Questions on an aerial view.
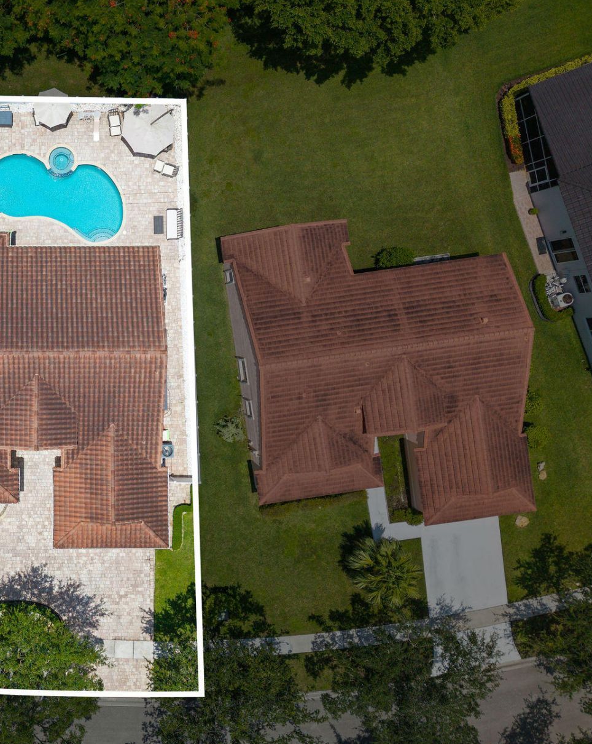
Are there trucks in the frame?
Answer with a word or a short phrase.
No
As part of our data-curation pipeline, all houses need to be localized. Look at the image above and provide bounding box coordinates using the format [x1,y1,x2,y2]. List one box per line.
[528,62,592,378]
[217,220,538,527]
[0,231,172,551]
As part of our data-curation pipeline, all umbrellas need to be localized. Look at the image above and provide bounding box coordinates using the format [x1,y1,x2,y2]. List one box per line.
[121,103,180,159]
[30,86,75,131]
